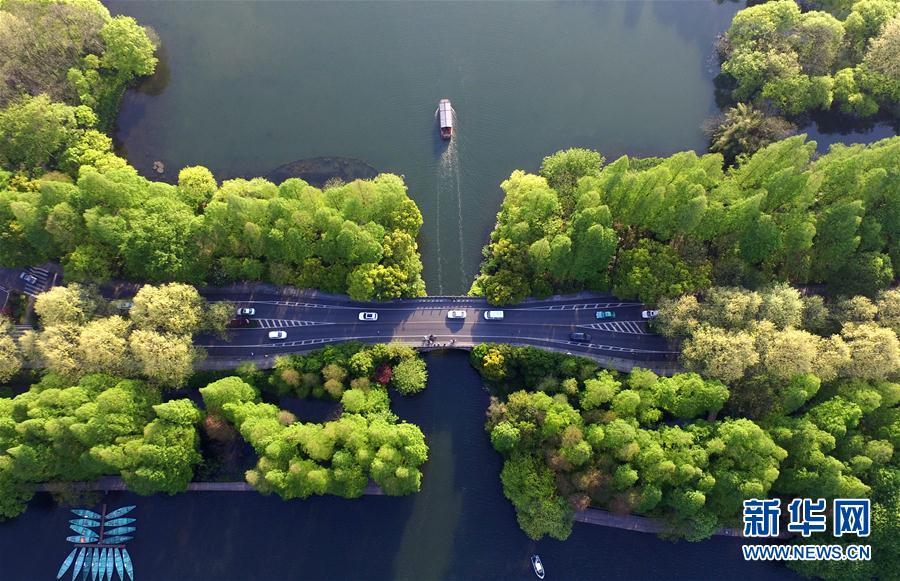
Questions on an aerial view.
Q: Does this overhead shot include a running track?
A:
No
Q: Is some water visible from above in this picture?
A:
Yes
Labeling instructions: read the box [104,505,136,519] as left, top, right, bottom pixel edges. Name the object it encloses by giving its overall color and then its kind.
blue boat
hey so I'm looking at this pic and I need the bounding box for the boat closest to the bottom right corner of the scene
[530,556,544,580]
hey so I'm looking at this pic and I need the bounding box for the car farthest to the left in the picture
[18,272,39,286]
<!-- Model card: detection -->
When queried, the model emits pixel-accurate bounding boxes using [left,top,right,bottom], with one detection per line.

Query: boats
[98,548,105,581]
[69,509,101,519]
[69,526,99,537]
[123,548,133,581]
[91,548,98,581]
[105,548,112,581]
[56,548,76,578]
[102,535,134,544]
[114,548,123,581]
[104,505,136,519]
[439,98,451,141]
[530,556,544,580]
[69,519,100,527]
[72,548,85,581]
[66,536,98,543]
[104,518,135,527]
[103,527,136,534]
[83,548,91,581]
